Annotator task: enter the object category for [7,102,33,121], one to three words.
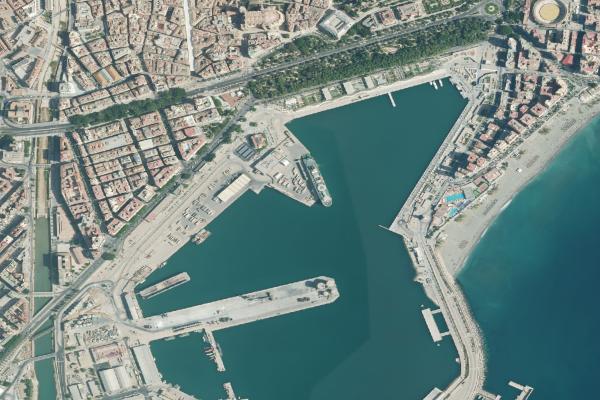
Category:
house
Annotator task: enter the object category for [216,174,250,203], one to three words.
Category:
building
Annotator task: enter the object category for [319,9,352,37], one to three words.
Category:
building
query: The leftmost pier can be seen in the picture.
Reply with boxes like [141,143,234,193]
[135,271,190,300]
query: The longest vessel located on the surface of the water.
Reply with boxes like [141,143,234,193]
[304,153,333,208]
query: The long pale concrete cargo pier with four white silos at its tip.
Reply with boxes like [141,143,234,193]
[140,275,339,344]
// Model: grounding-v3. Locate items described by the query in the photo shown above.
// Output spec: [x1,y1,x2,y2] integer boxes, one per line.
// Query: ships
[193,231,210,244]
[304,153,333,208]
